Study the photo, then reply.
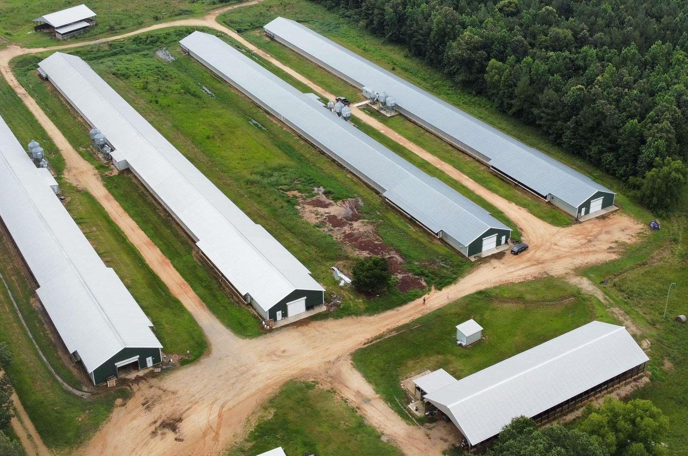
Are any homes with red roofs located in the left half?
No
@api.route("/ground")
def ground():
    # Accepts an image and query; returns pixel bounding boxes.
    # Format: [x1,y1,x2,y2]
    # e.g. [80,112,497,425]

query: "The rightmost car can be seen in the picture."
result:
[512,242,533,254]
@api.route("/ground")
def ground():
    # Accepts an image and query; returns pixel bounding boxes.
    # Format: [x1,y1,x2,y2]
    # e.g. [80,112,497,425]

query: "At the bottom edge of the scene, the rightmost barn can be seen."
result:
[413,321,649,456]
